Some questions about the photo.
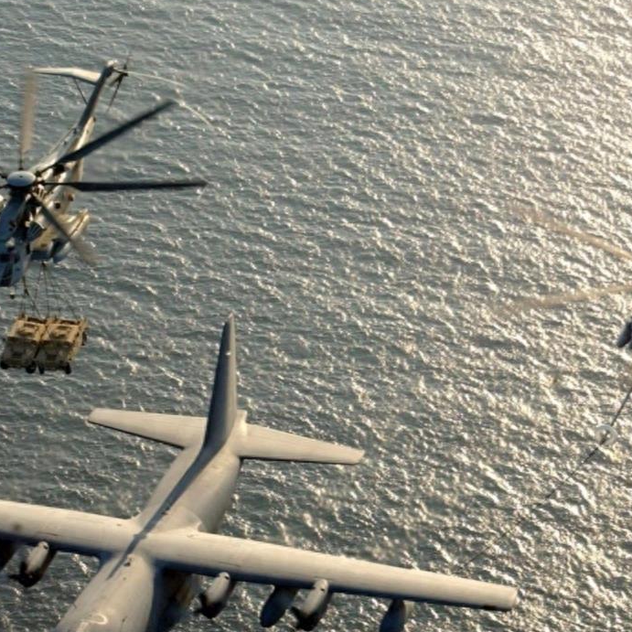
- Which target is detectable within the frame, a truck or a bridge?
truck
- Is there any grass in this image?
No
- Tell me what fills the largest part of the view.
water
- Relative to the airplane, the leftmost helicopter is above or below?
above it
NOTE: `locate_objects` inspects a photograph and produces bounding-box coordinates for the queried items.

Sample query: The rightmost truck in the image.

[35,314,88,371]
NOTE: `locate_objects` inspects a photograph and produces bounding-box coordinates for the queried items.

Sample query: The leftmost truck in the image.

[2,309,53,369]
